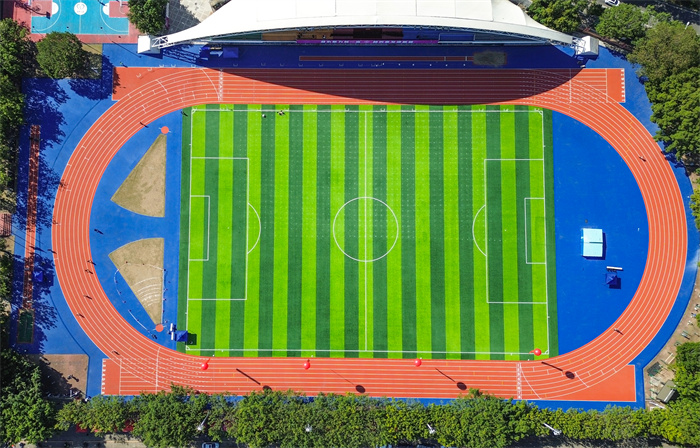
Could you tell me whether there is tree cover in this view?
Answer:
Yes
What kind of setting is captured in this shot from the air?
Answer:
sports ground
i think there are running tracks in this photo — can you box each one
[53,67,688,401]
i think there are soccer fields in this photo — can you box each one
[176,103,558,360]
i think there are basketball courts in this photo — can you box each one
[12,0,140,43]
